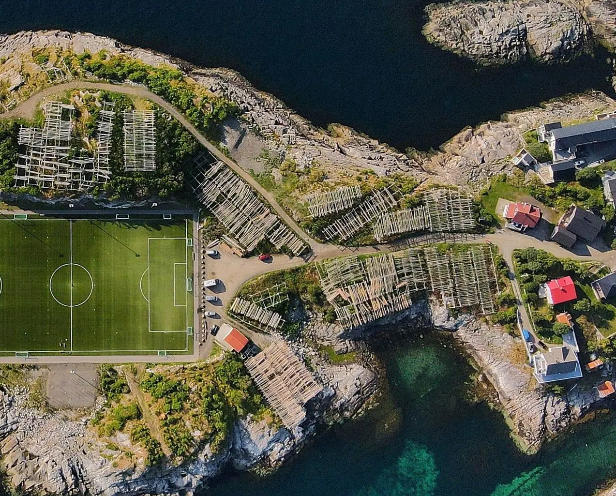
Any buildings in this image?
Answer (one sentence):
Yes, the picture does show a building.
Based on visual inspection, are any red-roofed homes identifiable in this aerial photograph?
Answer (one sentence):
Yes, I can see a red-roofed home in this picture.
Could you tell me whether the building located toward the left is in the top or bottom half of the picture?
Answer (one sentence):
The building located toward the left sits in the bottom half of the picture.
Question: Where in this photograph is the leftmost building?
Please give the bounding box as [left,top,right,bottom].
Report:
[213,323,252,353]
